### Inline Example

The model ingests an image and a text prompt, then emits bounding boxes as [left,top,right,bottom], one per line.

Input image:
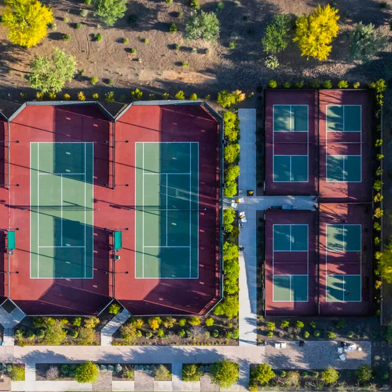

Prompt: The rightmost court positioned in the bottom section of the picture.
[318,203,373,316]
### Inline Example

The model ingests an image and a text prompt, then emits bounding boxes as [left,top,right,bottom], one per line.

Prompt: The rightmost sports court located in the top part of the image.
[318,89,373,203]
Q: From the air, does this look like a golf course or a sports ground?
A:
sports ground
